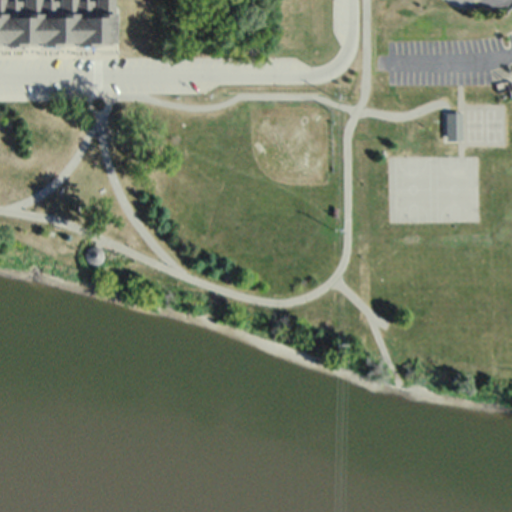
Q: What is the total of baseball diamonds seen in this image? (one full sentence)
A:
The picture shows just 1 baseball diamond.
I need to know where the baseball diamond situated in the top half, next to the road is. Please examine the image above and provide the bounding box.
[252,103,330,187]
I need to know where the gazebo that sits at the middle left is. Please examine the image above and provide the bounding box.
[86,246,106,266]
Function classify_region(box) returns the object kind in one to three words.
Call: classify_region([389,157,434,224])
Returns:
basketball court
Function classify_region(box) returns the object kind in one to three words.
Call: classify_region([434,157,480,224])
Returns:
basketball court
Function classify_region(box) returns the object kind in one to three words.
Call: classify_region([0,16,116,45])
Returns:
building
